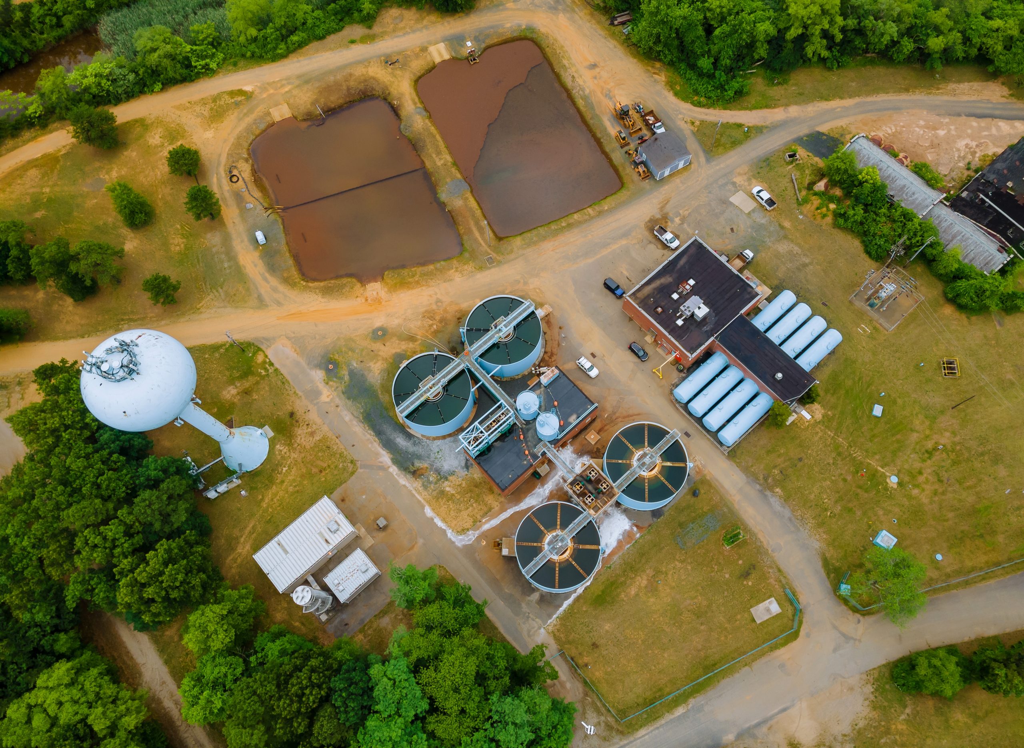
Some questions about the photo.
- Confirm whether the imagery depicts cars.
Yes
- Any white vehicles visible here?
Yes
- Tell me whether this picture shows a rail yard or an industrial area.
industrial area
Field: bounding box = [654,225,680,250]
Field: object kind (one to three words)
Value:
truck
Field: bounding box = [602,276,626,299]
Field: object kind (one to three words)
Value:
car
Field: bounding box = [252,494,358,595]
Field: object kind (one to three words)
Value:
shed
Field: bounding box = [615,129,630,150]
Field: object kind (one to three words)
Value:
work vehicle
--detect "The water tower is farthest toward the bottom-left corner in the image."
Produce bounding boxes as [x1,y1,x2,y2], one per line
[78,327,266,470]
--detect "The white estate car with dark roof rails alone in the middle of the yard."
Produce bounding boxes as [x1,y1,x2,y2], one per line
[574,355,601,381]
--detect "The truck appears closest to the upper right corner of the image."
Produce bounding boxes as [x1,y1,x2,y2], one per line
[751,187,777,211]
